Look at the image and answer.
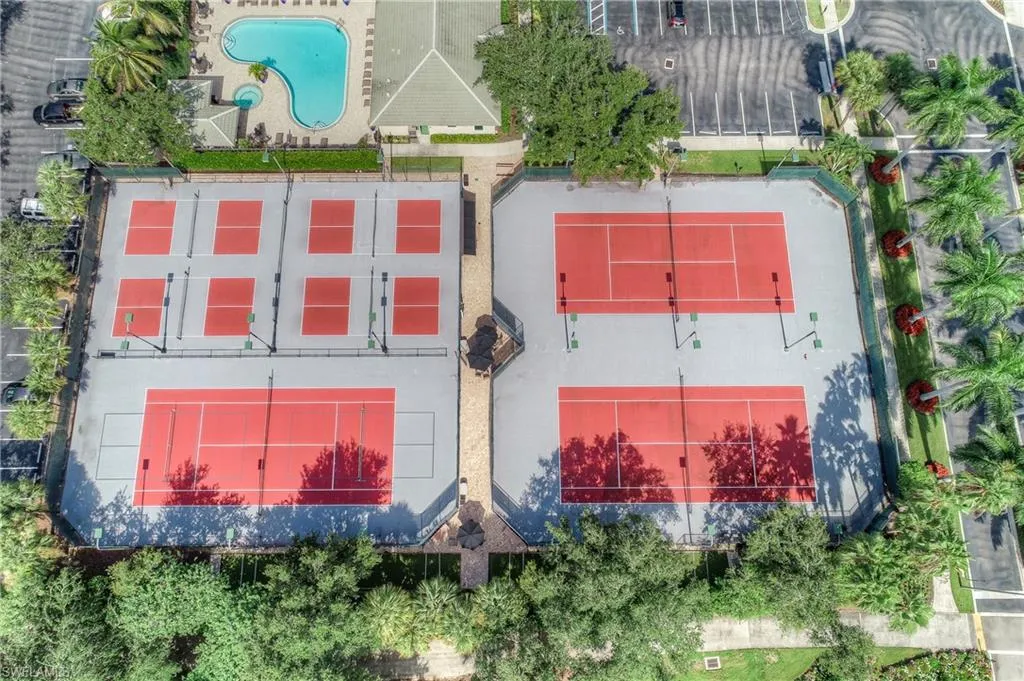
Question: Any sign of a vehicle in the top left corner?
Yes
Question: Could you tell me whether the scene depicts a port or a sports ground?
sports ground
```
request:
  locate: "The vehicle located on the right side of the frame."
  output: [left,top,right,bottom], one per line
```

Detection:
[669,0,691,26]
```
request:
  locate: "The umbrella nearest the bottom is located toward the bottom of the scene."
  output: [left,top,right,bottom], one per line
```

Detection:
[455,520,486,552]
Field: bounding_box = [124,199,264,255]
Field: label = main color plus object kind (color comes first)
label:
red sports court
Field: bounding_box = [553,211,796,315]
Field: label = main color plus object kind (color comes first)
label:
red tennis court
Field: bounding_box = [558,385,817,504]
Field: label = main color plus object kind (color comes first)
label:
red tennis court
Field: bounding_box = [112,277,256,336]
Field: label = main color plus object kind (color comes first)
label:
red sports court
